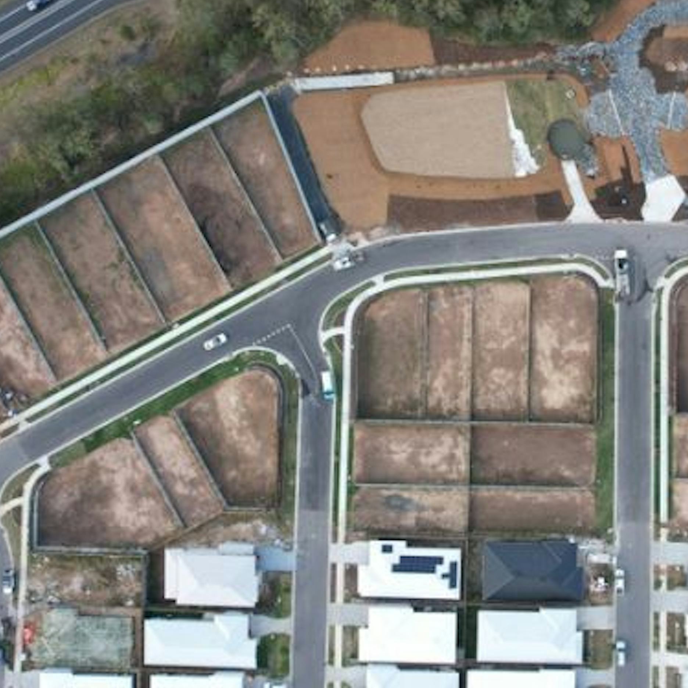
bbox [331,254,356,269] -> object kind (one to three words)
car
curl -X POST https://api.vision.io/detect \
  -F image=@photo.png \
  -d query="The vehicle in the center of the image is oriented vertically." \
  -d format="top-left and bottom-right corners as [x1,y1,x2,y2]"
[319,369,335,403]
